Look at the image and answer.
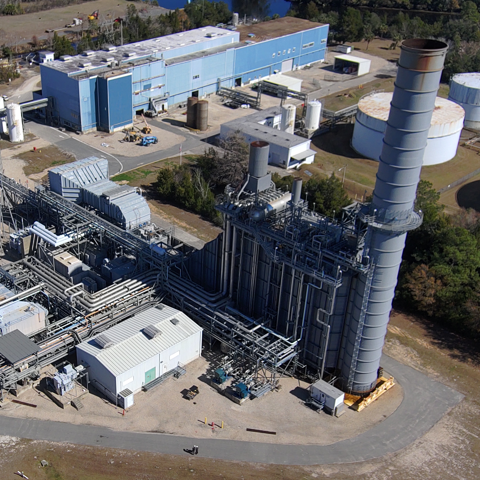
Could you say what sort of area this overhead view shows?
industrial area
